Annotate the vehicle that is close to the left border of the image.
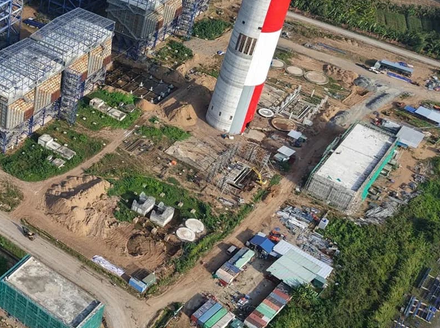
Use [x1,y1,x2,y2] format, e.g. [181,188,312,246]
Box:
[16,226,37,239]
